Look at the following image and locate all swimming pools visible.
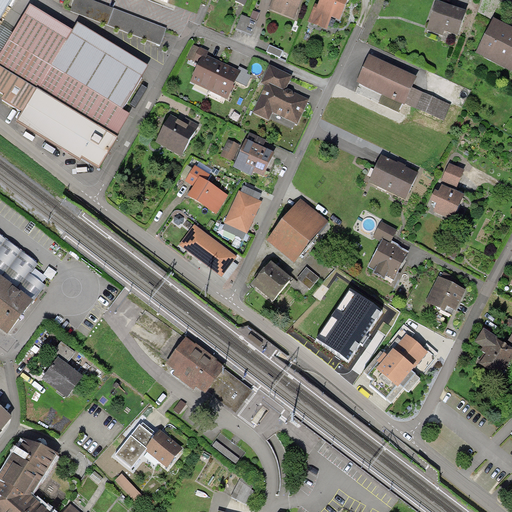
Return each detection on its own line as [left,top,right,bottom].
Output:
[251,64,262,75]
[362,218,377,232]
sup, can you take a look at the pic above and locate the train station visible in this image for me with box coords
[63,207,478,512]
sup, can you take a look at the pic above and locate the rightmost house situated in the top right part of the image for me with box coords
[476,18,512,74]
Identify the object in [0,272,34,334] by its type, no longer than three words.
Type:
house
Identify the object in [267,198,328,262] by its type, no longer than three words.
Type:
barn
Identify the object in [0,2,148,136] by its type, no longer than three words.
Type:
building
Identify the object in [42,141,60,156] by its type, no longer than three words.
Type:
vehicle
